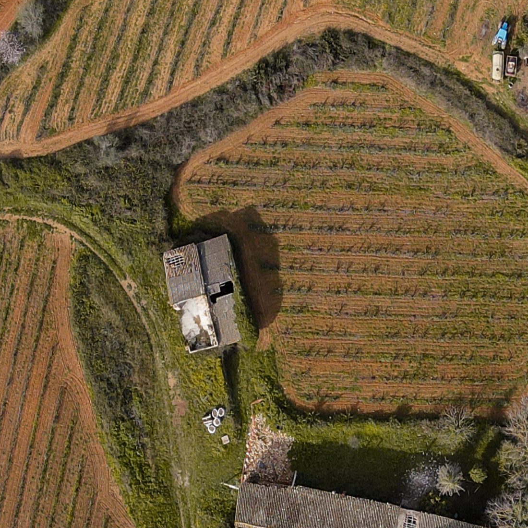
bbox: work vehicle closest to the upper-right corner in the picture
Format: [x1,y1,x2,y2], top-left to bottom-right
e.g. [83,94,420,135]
[491,17,510,44]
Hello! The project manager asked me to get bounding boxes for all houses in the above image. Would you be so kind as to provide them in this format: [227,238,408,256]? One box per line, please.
[221,470,480,528]
[162,234,246,355]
